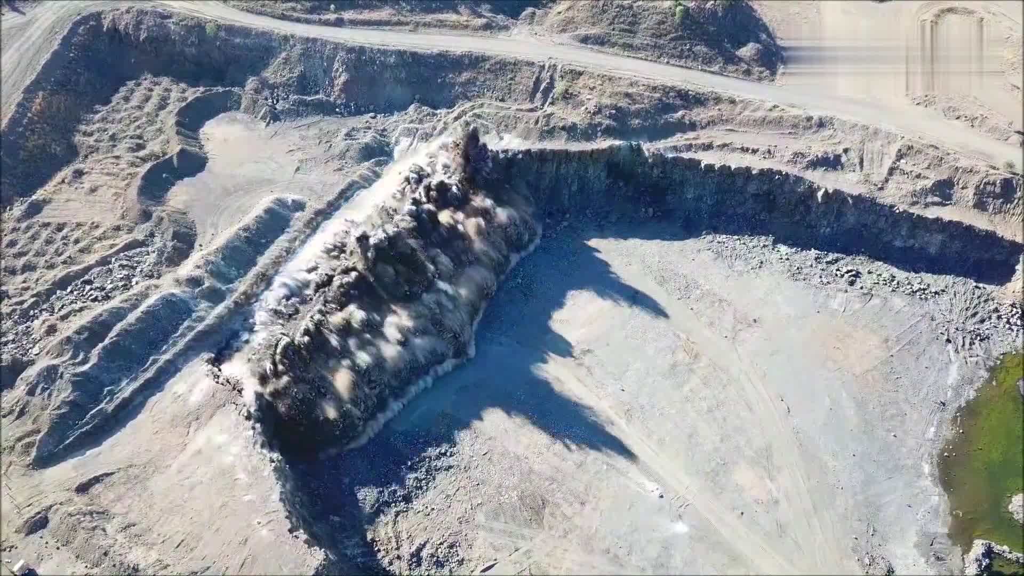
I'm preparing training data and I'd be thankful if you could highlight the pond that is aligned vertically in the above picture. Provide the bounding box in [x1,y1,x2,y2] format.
[947,365,1024,576]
